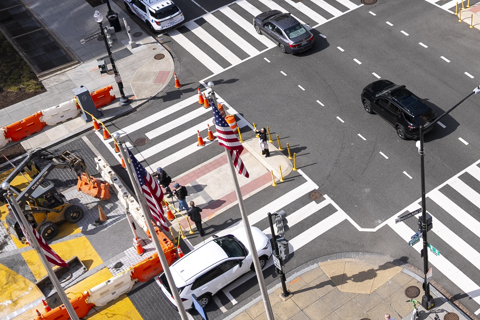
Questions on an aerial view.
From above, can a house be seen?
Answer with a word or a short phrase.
No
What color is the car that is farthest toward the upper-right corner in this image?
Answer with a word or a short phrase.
black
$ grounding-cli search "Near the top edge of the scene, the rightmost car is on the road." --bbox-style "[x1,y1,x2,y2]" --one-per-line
[248,8,315,56]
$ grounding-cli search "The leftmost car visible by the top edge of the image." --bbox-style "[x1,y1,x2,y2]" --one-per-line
[120,0,185,34]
